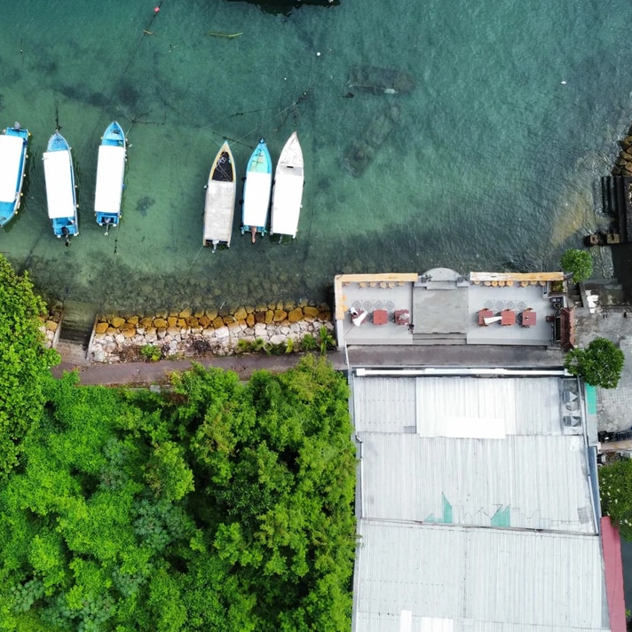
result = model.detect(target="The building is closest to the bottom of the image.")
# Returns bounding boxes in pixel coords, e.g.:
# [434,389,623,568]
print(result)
[343,366,624,632]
